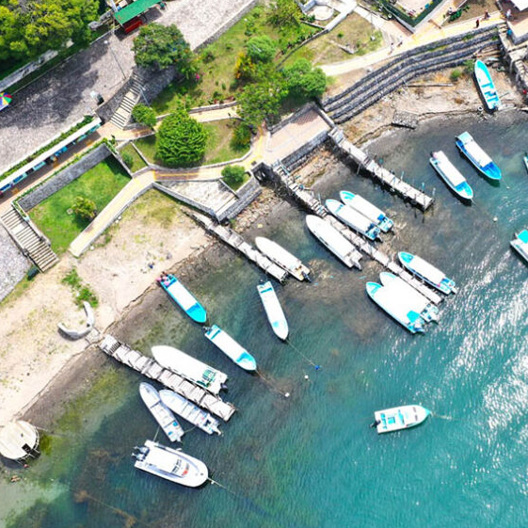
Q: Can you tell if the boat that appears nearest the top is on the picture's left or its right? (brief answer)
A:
right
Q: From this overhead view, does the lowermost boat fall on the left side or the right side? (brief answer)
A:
left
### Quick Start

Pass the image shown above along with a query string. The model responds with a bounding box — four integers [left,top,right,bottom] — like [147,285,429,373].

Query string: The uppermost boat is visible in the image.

[474,60,502,119]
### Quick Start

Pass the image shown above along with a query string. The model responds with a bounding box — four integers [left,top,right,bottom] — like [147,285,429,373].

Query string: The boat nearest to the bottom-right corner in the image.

[369,404,431,438]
